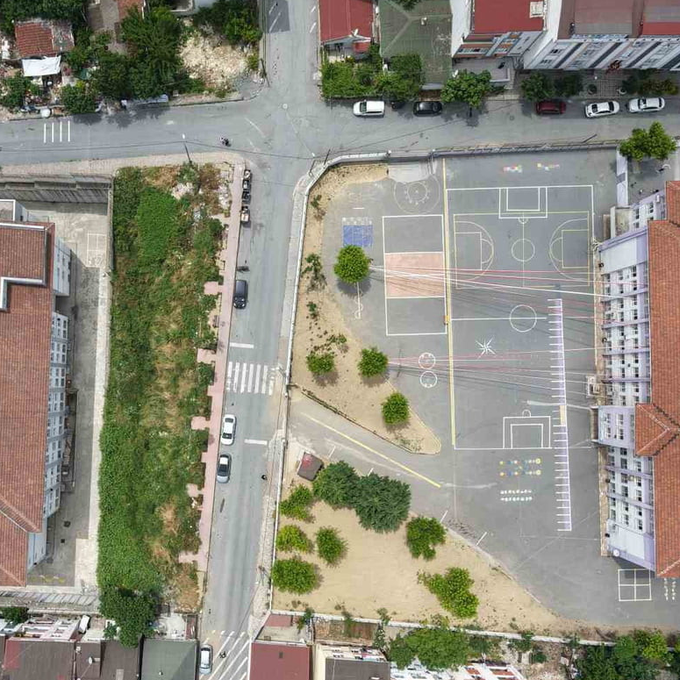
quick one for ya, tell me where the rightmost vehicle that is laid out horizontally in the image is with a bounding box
[628,97,660,113]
